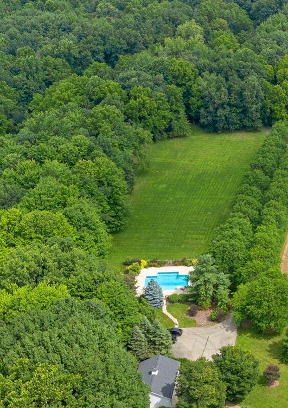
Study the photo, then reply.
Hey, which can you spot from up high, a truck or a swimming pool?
swimming pool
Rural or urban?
rural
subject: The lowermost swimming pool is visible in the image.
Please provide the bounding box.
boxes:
[134,264,194,300]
